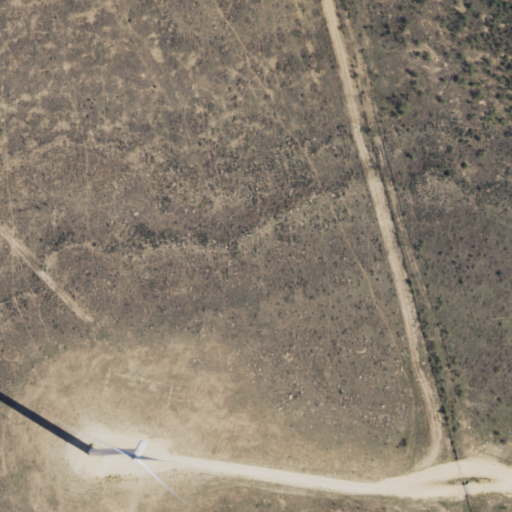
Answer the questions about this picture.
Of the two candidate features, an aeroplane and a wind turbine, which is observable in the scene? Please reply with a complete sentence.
Of the two, only a wind turbine appears.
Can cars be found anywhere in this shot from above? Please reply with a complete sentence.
No, there's no car here.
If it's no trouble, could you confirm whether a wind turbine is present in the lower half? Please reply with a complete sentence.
Yes, the scene does show a wind turbine in the lower half.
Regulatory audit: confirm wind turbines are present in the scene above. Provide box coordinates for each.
[45,414,188,498]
